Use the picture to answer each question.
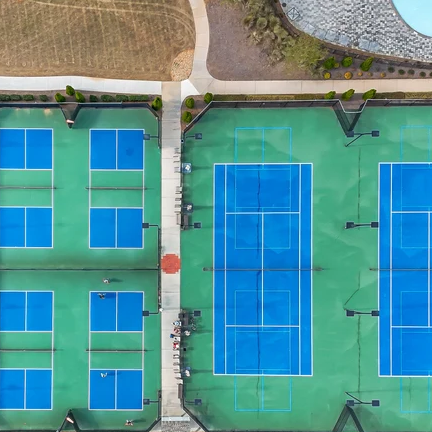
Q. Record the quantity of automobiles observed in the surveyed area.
0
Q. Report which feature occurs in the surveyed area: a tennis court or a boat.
tennis court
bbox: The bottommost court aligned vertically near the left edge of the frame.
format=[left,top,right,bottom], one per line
[0,291,53,410]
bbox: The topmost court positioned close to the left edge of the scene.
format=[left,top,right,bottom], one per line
[0,128,53,248]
